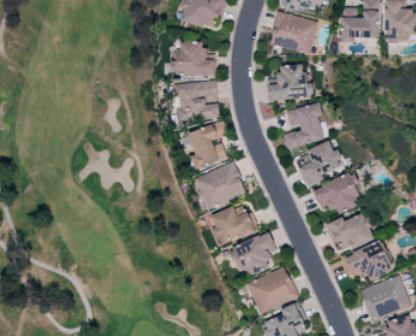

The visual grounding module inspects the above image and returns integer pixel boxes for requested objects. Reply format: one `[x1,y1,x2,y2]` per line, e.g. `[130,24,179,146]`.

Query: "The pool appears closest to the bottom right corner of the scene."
[397,235,416,250]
